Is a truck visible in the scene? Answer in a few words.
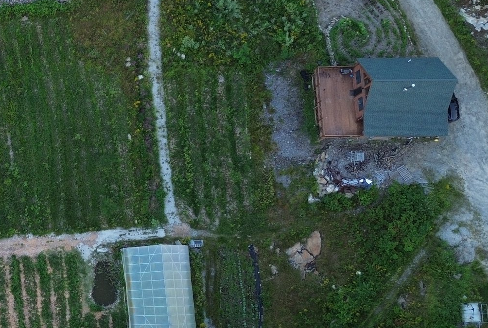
No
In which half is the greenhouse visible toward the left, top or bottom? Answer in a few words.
bottom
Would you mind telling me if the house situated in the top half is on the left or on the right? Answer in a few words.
right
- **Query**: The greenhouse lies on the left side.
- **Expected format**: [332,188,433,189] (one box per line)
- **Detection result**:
[118,245,195,328]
